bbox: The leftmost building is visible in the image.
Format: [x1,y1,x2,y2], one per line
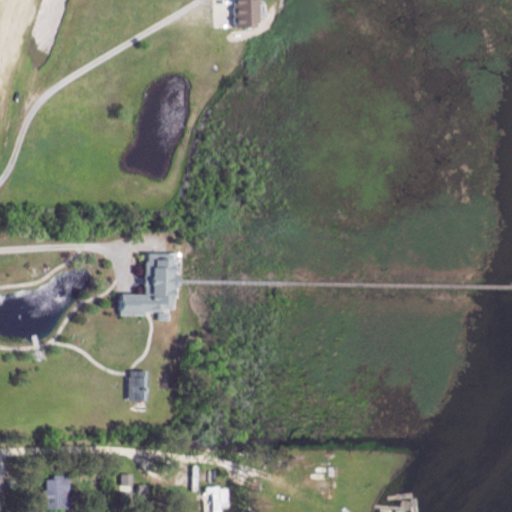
[46,476,70,510]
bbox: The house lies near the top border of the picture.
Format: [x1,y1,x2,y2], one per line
[235,0,267,29]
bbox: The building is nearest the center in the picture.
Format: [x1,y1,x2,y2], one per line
[117,252,183,322]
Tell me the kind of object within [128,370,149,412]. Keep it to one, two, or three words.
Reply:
house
